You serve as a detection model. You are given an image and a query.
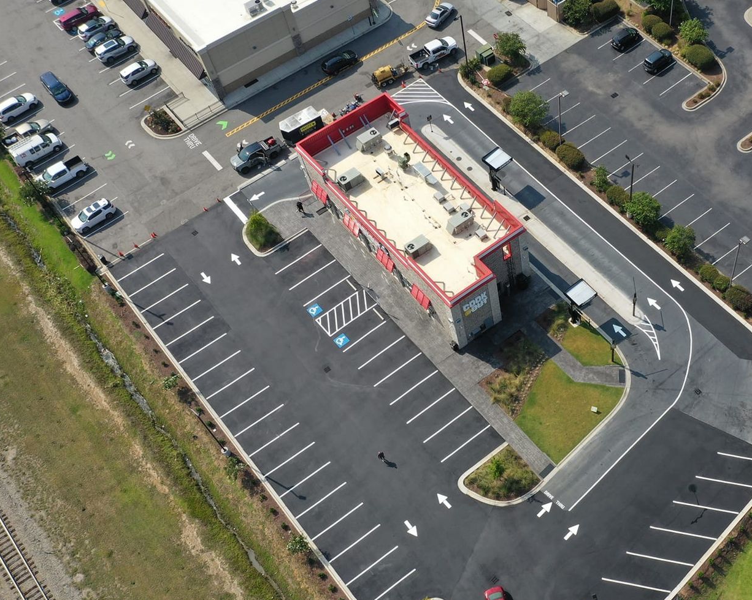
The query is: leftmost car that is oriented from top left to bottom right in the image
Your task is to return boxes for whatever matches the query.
[38,69,76,102]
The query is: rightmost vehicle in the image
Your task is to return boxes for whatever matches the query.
[642,49,676,74]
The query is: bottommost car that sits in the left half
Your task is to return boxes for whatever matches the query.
[70,198,120,232]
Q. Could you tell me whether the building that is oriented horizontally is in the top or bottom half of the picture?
top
